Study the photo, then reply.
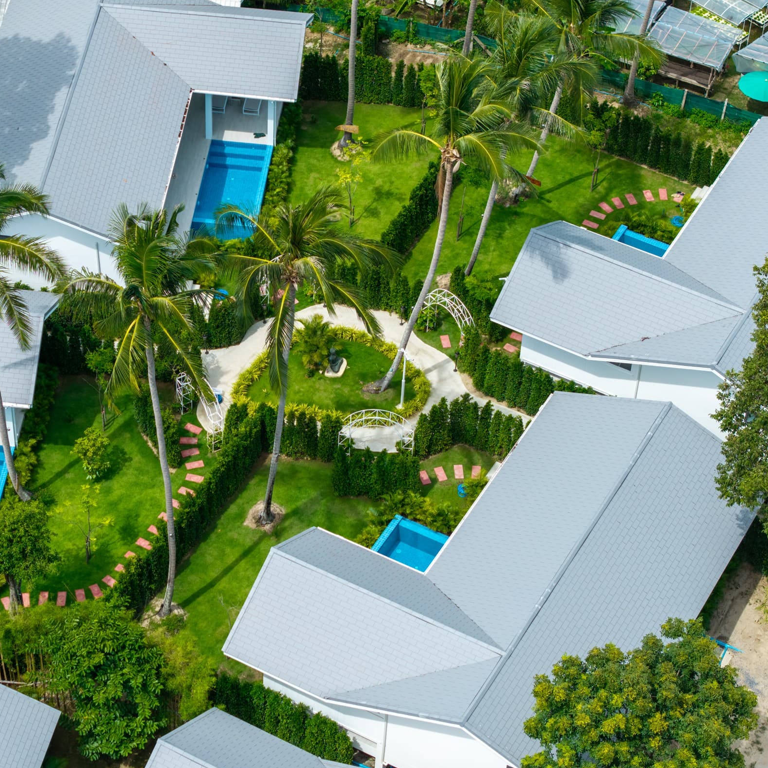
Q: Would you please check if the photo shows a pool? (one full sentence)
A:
Yes, looking at the shot, I can spot a pool.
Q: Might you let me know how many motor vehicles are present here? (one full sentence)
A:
The count of motor vehicles is 0.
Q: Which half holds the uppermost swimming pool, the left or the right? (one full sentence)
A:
The uppermost swimming pool is on the left side of the image.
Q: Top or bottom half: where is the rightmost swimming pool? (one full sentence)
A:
It is in the top half that the rightmost swimming pool appears.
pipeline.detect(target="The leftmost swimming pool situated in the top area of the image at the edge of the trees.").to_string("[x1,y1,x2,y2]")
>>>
[192,143,265,223]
